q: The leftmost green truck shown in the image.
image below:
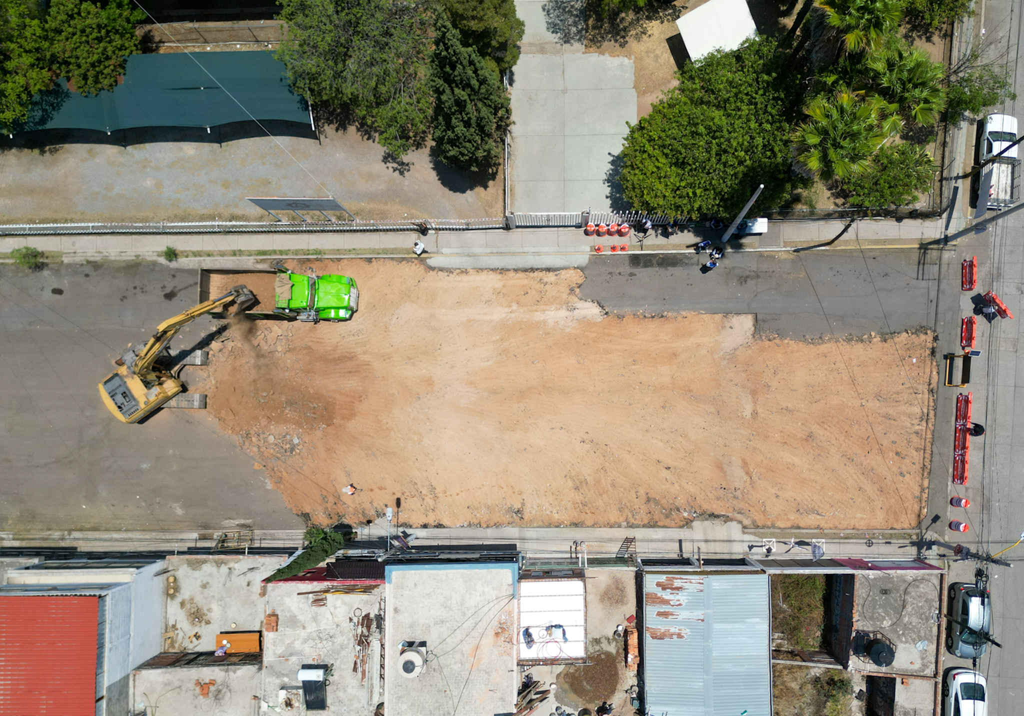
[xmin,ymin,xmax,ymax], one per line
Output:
[198,267,362,324]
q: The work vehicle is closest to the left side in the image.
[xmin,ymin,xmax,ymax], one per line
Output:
[100,286,250,422]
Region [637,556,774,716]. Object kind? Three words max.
house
